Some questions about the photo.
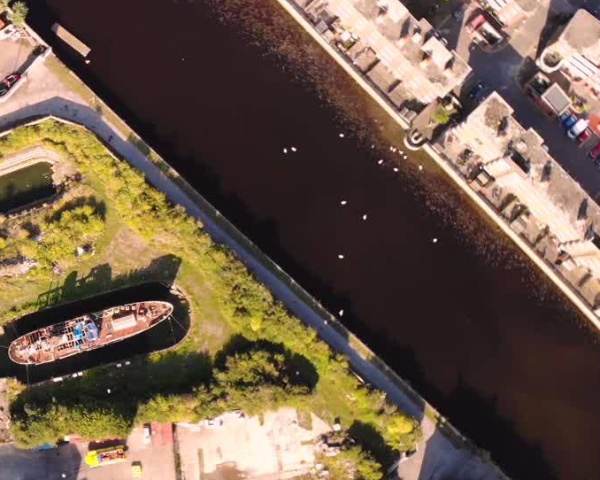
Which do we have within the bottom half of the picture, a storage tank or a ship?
ship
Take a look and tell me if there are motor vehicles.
Yes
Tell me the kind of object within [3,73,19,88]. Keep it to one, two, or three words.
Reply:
car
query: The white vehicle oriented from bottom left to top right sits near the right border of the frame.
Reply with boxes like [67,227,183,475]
[570,119,592,137]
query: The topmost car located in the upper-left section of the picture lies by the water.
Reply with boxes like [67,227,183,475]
[30,43,46,59]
